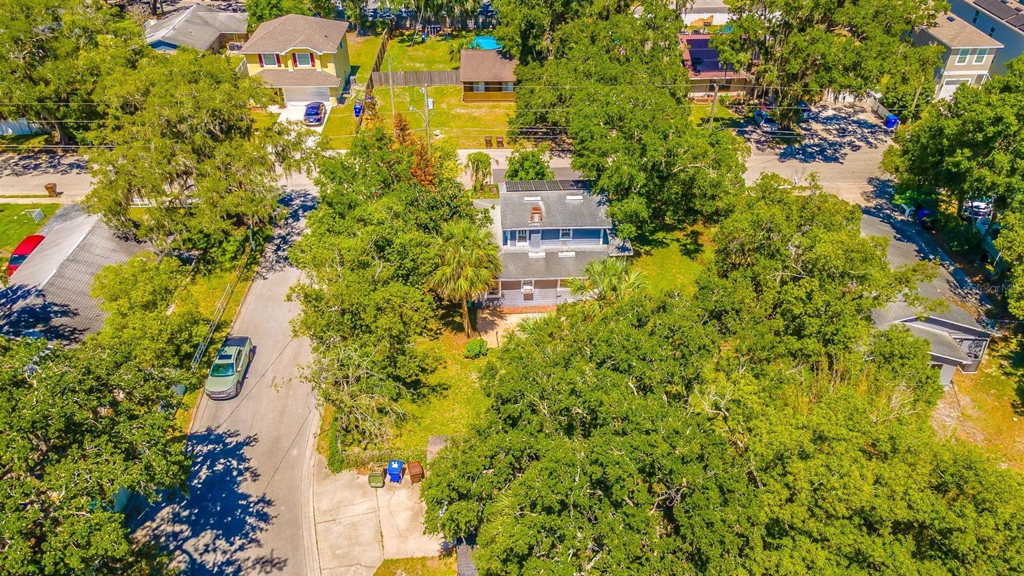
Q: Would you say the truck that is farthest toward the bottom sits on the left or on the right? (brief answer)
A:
left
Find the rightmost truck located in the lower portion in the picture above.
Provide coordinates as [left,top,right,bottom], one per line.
[206,330,253,393]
